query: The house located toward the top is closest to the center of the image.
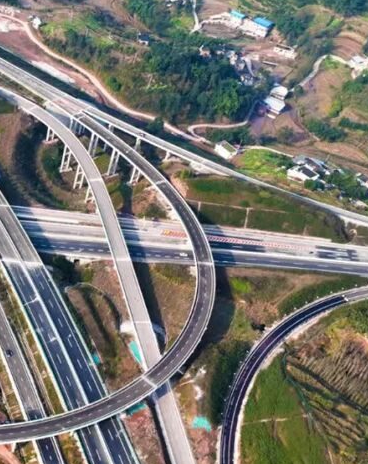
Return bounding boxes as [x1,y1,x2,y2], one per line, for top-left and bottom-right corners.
[211,141,240,161]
